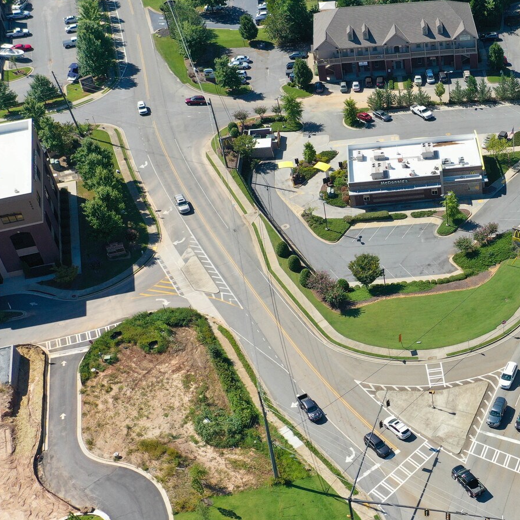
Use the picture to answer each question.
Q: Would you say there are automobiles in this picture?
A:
Yes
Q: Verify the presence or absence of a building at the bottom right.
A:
No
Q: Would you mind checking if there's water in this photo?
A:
No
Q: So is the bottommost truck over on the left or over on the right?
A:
right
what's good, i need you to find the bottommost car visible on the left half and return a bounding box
[175,195,189,212]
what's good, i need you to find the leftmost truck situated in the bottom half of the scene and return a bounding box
[295,393,324,423]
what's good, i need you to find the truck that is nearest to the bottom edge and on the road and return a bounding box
[451,465,485,500]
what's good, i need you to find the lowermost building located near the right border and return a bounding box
[345,128,500,206]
